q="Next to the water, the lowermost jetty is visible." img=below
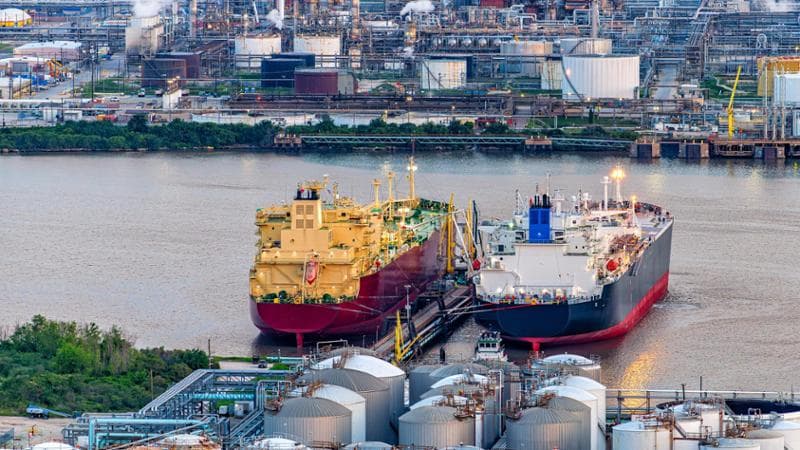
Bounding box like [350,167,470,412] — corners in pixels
[354,277,481,366]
